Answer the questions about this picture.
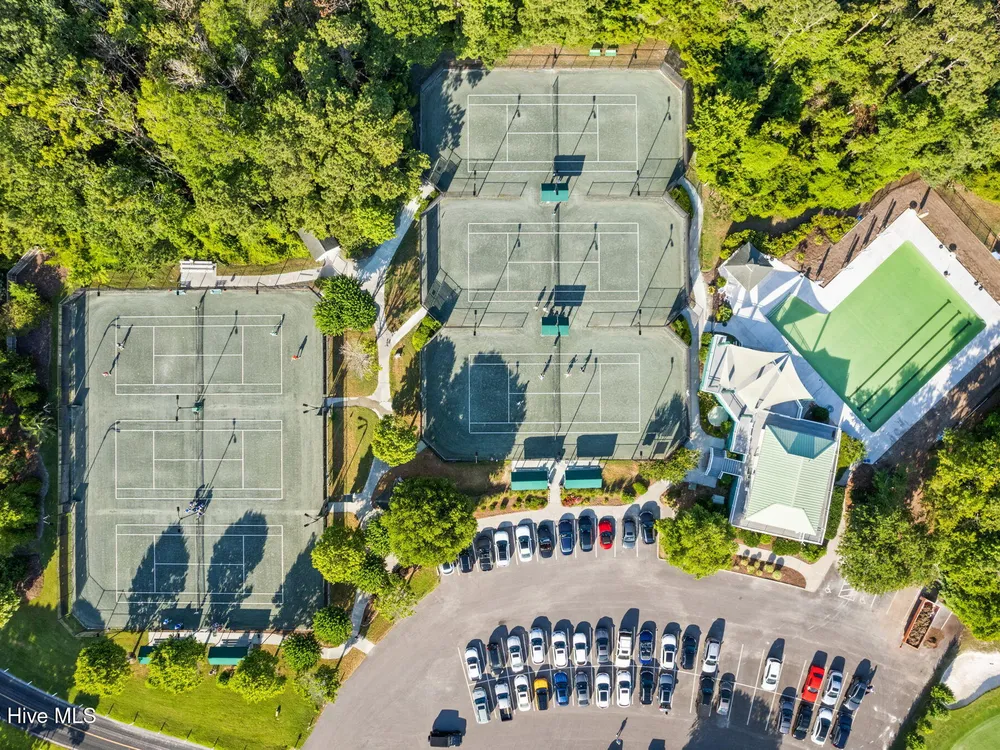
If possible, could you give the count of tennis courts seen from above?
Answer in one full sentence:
The number of tennis courts here is 6.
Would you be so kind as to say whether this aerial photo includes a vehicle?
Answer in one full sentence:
Yes, there is a vehicle in the image.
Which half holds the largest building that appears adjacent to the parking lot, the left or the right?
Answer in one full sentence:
The largest building that appears adjacent to the parking lot sits on the right side.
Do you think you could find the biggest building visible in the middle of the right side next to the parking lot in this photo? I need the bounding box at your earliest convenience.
[695,335,840,544]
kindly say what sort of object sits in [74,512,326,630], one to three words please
tennis court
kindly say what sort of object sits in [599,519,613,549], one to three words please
car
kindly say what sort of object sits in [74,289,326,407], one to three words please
tennis court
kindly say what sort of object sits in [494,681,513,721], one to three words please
vehicle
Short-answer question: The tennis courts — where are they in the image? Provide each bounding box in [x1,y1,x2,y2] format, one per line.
[74,512,326,630]
[422,68,685,196]
[422,196,689,326]
[74,407,326,512]
[74,289,326,407]
[422,327,690,460]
